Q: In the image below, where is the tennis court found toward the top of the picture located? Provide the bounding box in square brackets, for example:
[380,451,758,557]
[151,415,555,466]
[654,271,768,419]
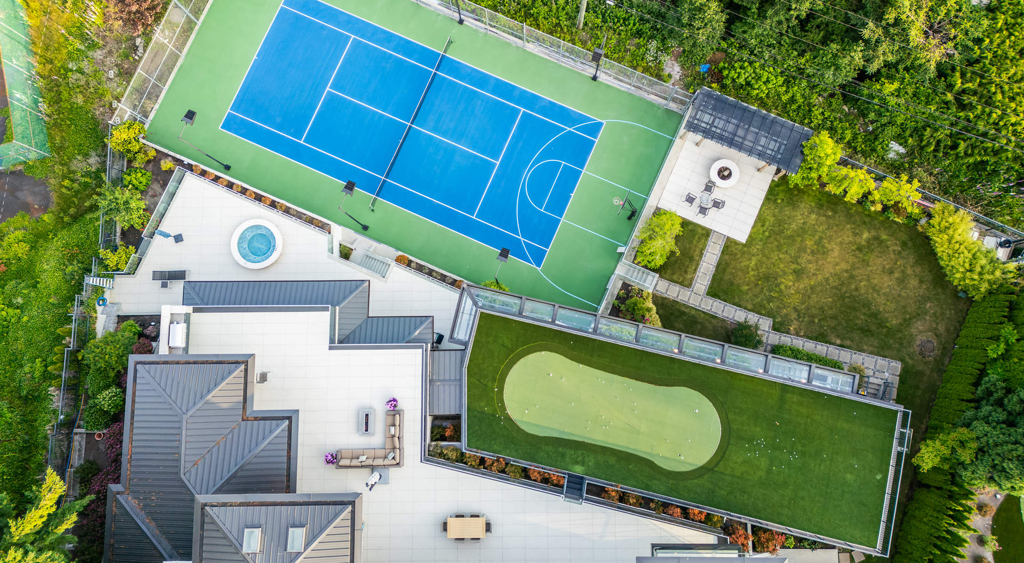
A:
[146,0,684,332]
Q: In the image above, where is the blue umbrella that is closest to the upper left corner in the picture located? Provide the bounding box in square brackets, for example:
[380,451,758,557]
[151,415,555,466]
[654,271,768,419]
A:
[154,230,183,243]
